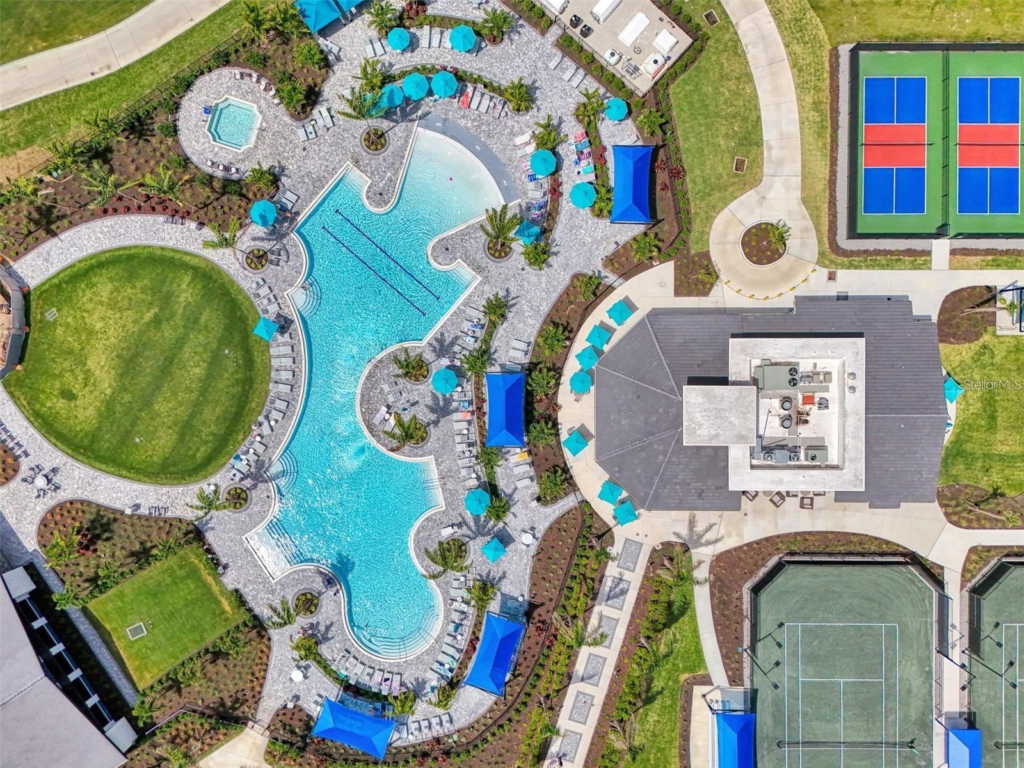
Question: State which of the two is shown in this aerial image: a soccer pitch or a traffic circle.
traffic circle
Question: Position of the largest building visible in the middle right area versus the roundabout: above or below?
below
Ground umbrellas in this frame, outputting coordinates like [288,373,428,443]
[605,299,632,326]
[586,324,611,349]
[514,219,542,246]
[562,430,588,456]
[529,150,556,177]
[387,29,410,54]
[255,318,278,340]
[573,345,600,371]
[449,26,475,53]
[944,418,954,437]
[612,500,637,526]
[432,368,458,395]
[943,375,963,402]
[481,536,507,562]
[251,200,278,227]
[604,99,627,122]
[569,183,595,209]
[570,371,592,393]
[597,479,622,504]
[464,489,490,515]
[430,72,457,99]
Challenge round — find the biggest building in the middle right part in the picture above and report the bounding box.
[594,301,948,510]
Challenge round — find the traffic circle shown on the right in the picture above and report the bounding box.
[739,219,789,269]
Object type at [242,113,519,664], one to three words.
swimming pool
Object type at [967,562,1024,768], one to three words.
tennis court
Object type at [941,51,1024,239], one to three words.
sports court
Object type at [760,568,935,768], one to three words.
tennis court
